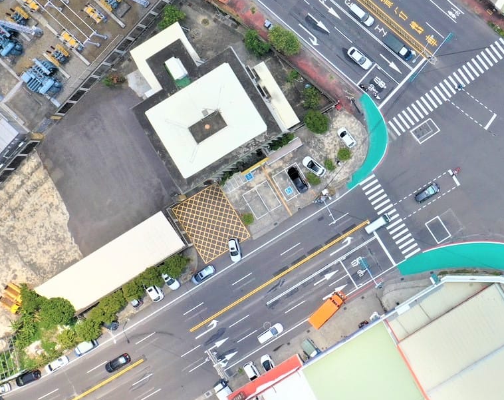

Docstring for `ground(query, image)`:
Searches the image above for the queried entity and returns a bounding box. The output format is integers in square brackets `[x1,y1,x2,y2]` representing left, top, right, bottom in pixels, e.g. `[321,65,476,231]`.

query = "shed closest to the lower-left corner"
[34,210,197,312]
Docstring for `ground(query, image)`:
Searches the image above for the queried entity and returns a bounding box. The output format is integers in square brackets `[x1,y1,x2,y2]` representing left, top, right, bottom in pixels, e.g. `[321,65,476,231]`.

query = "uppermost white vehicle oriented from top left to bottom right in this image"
[346,1,374,27]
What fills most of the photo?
paved ground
